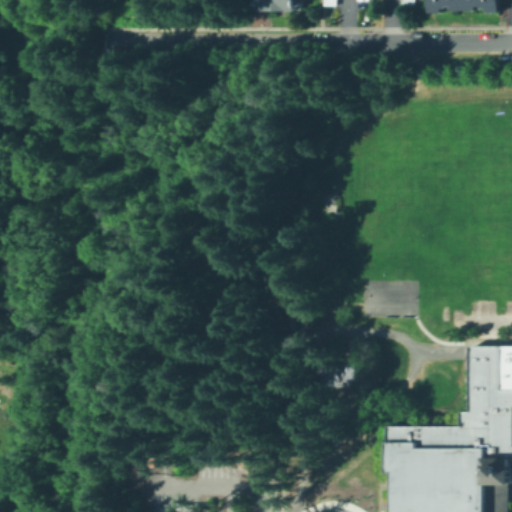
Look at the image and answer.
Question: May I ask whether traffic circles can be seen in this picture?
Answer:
No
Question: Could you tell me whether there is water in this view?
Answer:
No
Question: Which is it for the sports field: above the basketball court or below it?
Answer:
above it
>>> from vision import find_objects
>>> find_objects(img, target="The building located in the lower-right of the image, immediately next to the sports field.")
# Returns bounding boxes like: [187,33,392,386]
[383,346,512,512]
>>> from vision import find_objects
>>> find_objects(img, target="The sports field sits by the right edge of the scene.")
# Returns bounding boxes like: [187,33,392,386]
[348,104,512,274]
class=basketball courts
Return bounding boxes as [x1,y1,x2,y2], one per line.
[363,281,418,316]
